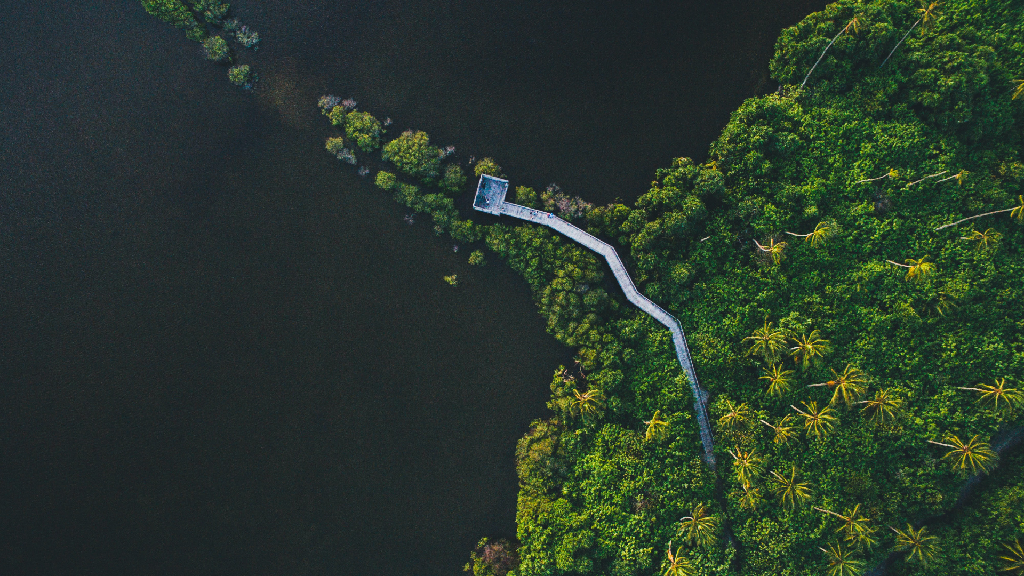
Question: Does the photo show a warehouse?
No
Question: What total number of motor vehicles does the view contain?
0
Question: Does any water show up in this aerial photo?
Yes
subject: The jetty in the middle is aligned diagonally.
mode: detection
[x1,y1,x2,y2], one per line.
[473,174,719,460]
